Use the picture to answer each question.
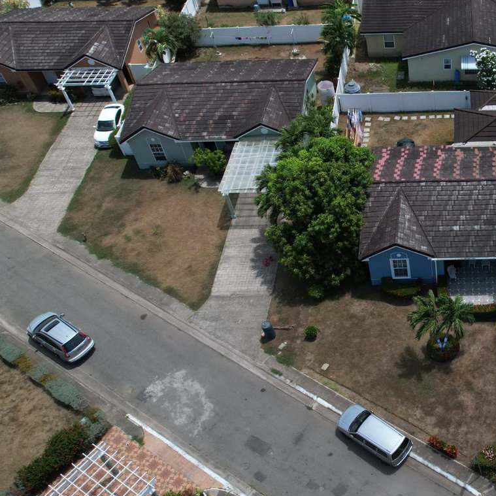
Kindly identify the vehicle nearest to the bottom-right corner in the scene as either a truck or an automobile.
automobile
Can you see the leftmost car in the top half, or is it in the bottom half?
bottom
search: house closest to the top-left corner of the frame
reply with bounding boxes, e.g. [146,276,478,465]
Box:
[0,5,165,93]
